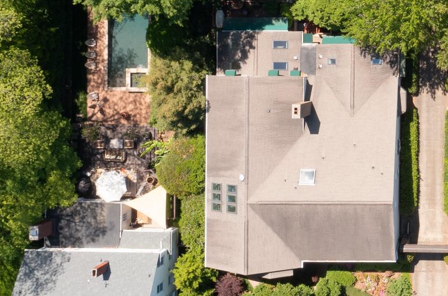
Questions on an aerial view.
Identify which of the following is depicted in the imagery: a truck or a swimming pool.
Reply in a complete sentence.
Visible in the photo is a swimming pool.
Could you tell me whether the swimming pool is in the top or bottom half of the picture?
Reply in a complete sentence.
Seen from above, the swimming pool lies in the top half of the view.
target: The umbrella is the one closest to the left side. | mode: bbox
[90,173,122,200]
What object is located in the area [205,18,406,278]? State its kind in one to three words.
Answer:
house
